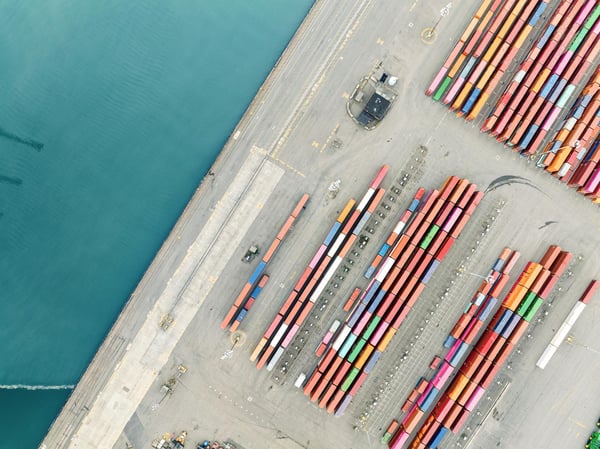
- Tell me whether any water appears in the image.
Yes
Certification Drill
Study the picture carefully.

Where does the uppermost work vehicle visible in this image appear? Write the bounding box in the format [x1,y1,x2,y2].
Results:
[241,246,260,265]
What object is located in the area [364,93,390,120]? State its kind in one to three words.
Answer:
building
